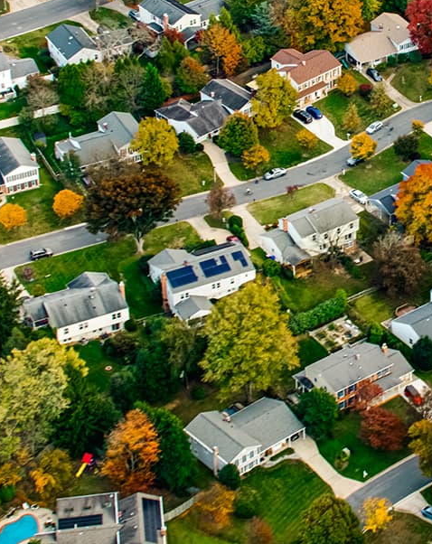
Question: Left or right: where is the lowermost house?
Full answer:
It is on the left.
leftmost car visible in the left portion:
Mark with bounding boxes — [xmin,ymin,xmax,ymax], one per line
[26,247,56,263]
